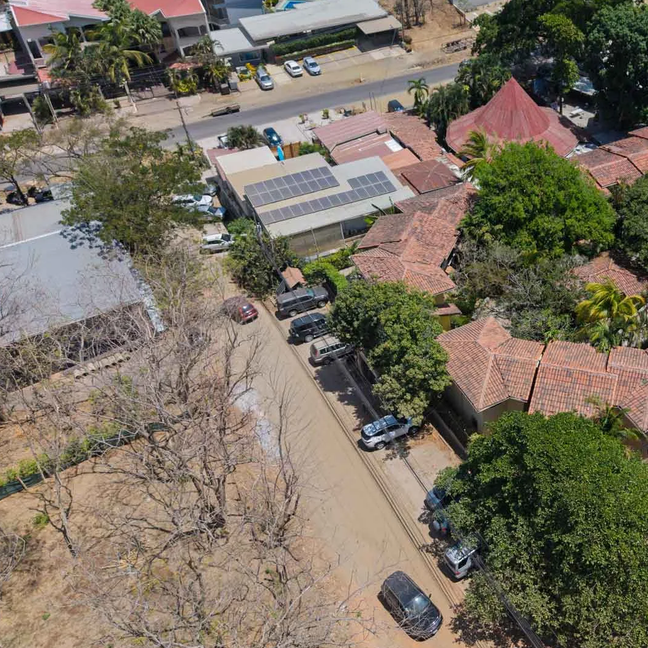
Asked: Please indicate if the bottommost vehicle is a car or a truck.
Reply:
car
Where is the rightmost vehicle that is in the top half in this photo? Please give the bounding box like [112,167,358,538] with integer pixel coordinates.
[383,88,406,112]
